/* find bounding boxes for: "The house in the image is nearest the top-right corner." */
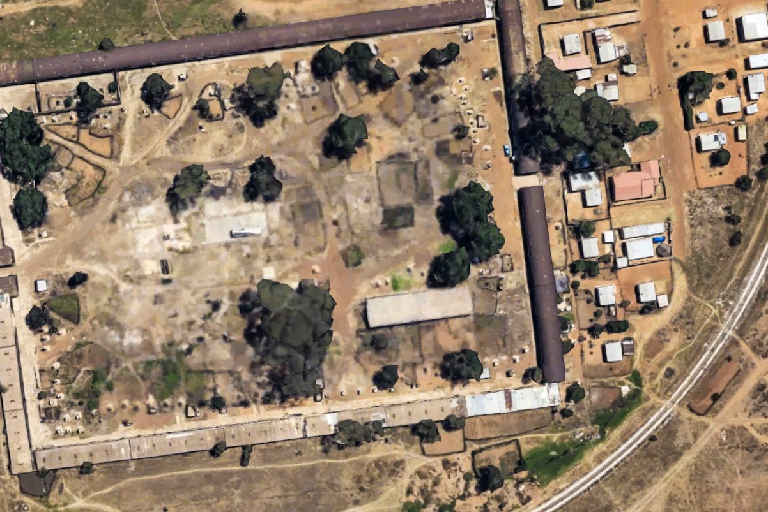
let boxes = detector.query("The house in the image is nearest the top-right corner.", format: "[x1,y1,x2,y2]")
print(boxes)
[740,13,768,40]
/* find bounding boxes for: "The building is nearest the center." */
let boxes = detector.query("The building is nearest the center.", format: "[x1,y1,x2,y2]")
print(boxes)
[367,288,472,326]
